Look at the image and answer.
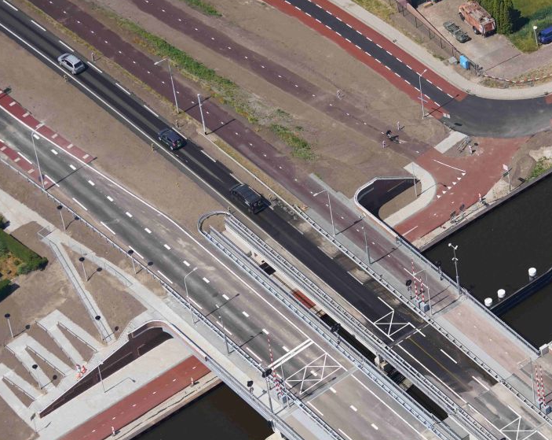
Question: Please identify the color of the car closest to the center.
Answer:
black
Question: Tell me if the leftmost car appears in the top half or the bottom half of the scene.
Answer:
top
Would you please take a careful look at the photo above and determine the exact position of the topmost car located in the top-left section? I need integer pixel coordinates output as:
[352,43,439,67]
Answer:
[53,52,92,77]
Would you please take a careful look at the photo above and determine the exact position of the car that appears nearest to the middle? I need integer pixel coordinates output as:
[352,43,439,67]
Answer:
[228,180,273,212]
